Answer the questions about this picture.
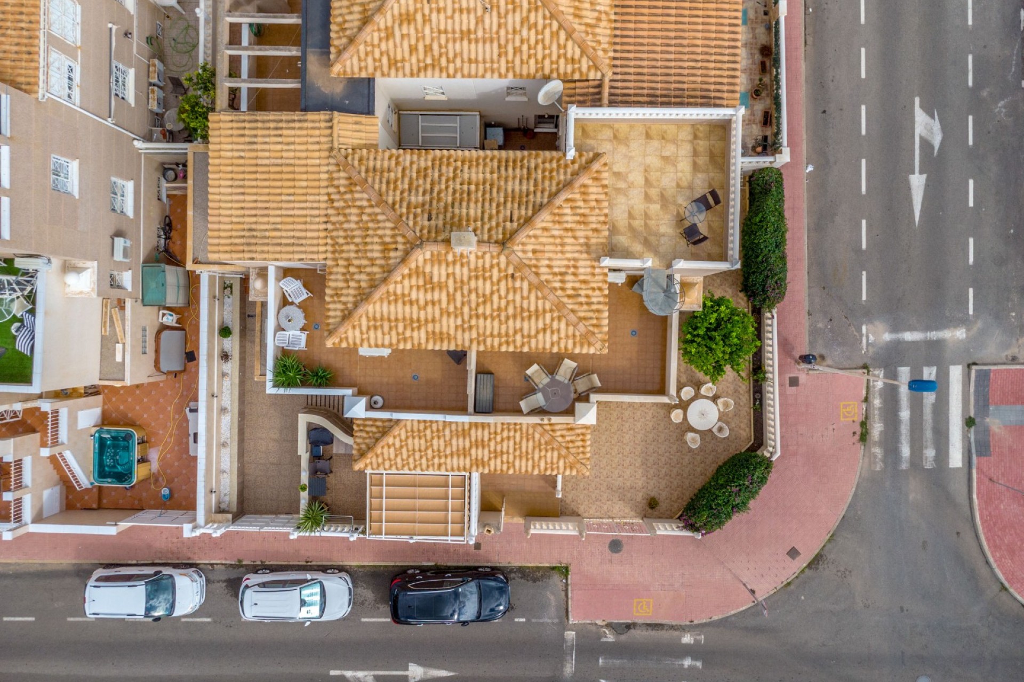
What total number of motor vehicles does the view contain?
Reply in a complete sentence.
Altogether the scene contains 3 motor vehicles.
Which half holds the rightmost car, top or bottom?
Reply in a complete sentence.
The bottom half of the photo is where the rightmost car is.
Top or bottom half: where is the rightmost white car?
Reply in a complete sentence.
You can find the rightmost white car in the bottom half.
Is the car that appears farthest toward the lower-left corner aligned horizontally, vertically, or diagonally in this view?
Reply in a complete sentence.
The car that appears farthest toward the lower-left corner is oriented horizontally.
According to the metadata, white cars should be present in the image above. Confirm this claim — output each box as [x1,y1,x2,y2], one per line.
[236,567,355,628]
[77,567,208,628]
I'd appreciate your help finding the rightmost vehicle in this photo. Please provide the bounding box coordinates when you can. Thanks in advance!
[391,567,510,631]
